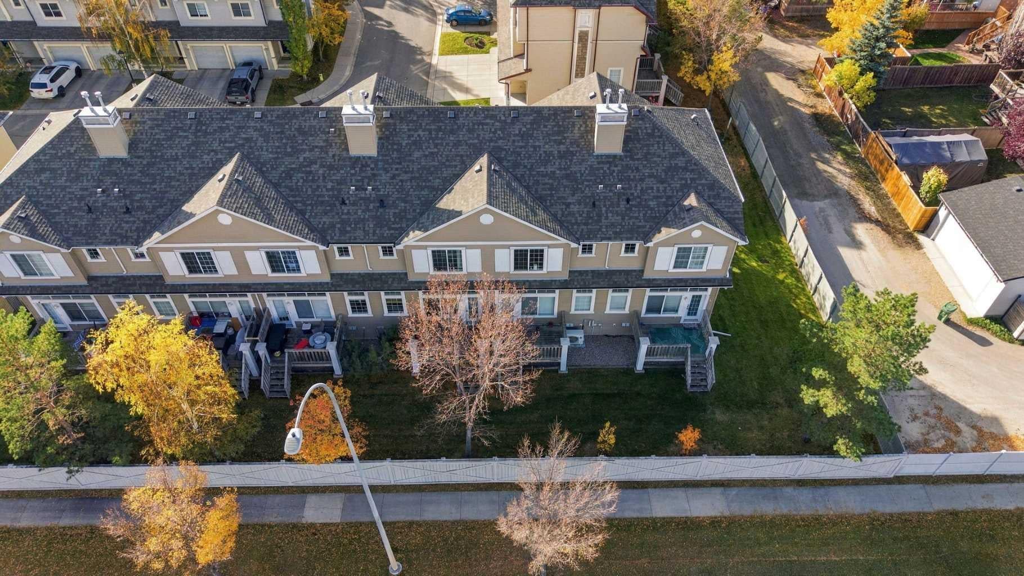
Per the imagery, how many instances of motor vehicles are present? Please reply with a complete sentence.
The picture shows 3 motor vehicles.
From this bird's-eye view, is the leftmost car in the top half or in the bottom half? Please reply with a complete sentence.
Seen from above, the leftmost car lies in the top half of the view.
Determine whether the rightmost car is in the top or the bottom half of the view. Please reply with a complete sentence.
The rightmost car is in the top half of the image.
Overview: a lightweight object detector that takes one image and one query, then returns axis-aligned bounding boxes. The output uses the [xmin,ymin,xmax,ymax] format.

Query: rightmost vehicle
[444,4,493,26]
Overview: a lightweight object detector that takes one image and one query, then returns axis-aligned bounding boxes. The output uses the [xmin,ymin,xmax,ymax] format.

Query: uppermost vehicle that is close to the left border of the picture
[30,62,80,98]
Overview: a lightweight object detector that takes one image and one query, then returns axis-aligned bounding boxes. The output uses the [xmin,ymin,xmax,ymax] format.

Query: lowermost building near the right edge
[923,171,1024,330]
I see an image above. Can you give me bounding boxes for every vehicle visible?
[444,4,493,26]
[30,62,80,98]
[224,63,263,105]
